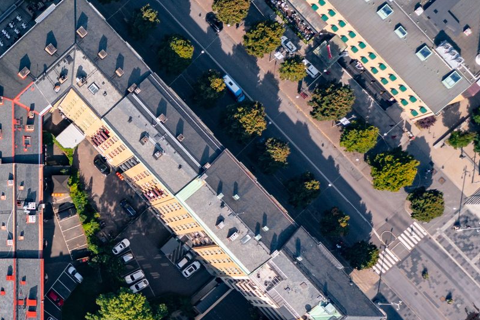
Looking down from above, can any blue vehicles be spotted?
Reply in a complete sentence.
Yes, a blue vehicle appears in the view.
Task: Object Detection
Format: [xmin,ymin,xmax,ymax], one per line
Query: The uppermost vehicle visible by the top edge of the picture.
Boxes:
[204,10,223,32]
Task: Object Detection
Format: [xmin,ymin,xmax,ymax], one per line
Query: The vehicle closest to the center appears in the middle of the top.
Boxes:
[222,70,247,102]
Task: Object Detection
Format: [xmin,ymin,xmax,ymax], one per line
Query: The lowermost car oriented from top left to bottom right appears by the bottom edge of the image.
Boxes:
[45,290,64,308]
